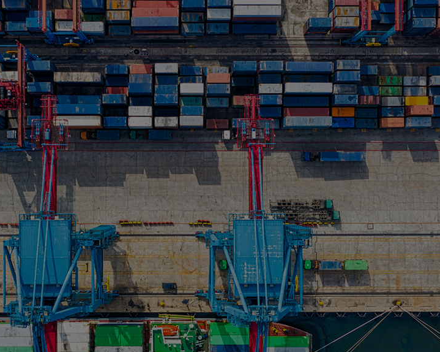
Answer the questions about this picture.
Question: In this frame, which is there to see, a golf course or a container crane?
container crane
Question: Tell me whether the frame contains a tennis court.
No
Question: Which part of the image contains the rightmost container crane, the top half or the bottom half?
top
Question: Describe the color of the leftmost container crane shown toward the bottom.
blue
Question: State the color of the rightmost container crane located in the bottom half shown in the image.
blue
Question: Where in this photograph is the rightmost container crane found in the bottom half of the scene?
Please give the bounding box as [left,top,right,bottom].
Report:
[196,93,319,352]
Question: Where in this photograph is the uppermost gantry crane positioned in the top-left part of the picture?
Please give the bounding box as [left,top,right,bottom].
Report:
[37,0,97,48]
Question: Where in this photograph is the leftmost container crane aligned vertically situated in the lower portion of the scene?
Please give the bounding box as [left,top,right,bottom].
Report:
[0,93,120,352]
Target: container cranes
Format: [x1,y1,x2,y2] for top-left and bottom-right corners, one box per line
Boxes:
[0,93,120,352]
[337,0,405,48]
[0,37,48,153]
[196,93,319,352]
[37,0,97,48]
